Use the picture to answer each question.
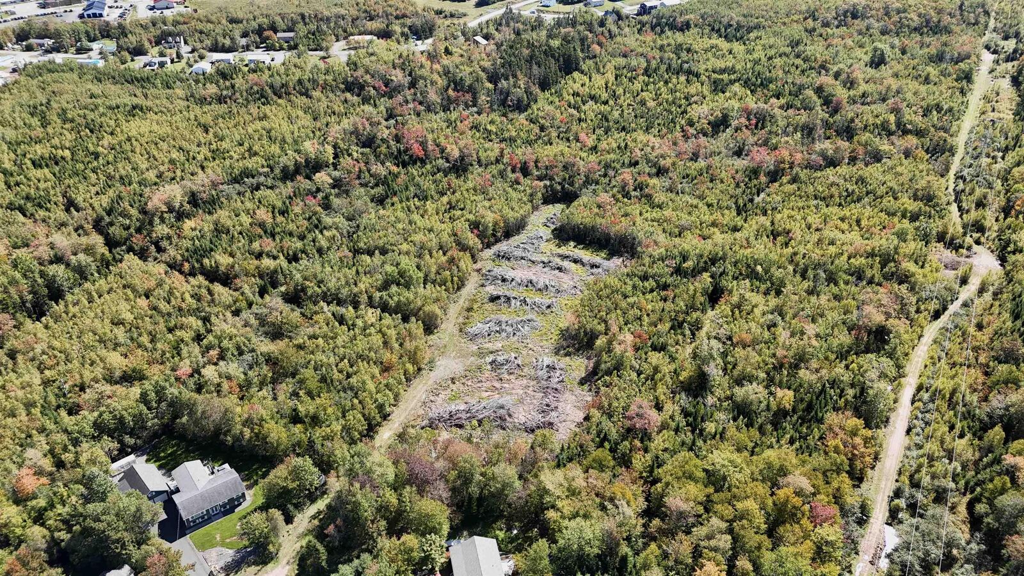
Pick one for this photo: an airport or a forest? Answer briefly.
forest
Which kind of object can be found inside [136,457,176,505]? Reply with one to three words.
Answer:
building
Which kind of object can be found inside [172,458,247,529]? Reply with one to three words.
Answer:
house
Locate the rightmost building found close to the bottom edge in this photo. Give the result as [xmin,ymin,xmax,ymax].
[447,535,521,576]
